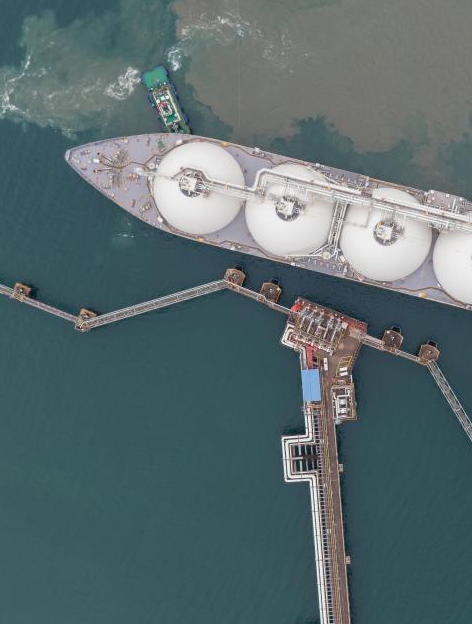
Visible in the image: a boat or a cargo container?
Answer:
boat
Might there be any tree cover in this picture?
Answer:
No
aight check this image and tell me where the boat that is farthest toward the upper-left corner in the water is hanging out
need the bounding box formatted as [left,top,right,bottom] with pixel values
[141,63,190,136]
